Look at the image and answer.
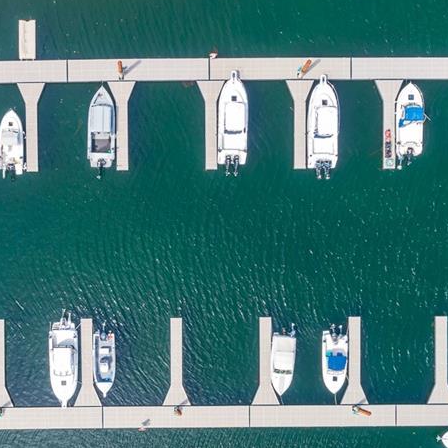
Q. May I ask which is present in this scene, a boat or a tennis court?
boat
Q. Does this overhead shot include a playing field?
No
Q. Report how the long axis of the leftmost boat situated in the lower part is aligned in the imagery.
from top to bottom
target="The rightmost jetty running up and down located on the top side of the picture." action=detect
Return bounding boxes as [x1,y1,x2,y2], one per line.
[374,80,403,170]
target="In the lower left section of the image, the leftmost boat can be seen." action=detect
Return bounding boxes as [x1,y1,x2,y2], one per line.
[47,310,79,407]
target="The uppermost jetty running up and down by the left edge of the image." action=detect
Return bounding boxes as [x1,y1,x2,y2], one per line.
[17,84,46,172]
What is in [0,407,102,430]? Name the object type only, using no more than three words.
pier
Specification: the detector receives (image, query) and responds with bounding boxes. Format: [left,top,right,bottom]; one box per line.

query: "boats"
[307,74,339,183]
[88,85,116,178]
[321,316,349,395]
[47,310,79,407]
[396,82,437,169]
[270,319,297,397]
[217,71,248,177]
[93,320,115,394]
[0,109,24,183]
